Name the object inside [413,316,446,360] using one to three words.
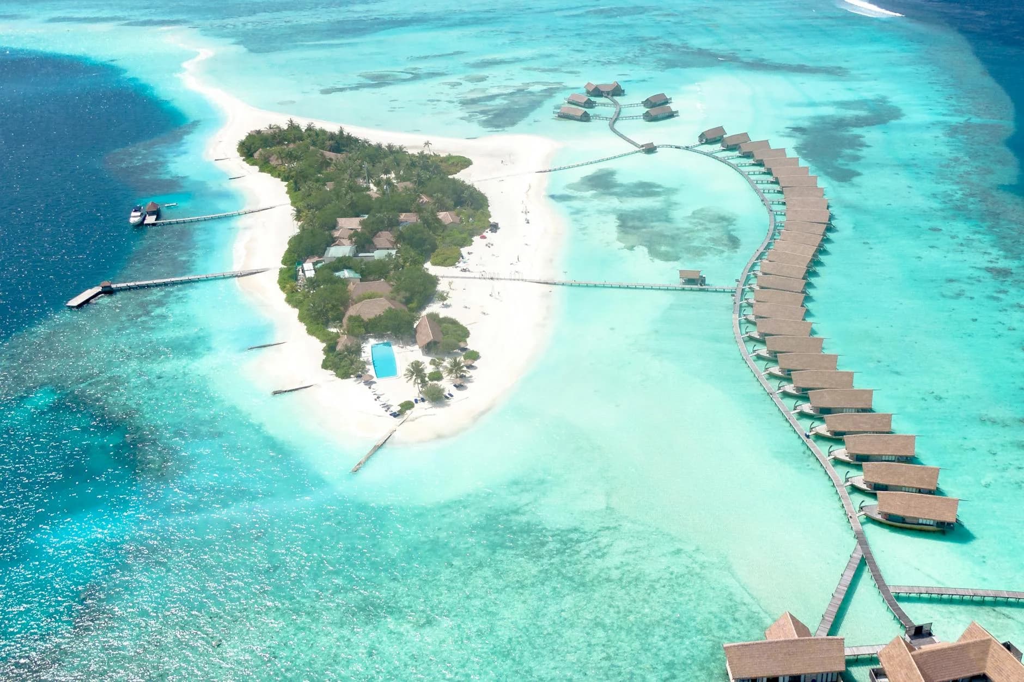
building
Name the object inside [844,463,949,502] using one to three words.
house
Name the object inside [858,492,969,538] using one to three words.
house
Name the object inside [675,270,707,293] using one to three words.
building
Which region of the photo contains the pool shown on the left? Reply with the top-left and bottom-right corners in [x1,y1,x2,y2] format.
[369,341,400,381]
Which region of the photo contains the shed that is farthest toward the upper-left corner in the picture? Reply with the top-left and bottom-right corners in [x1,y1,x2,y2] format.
[144,202,164,228]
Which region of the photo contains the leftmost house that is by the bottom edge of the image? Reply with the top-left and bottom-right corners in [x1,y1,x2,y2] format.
[716,611,847,682]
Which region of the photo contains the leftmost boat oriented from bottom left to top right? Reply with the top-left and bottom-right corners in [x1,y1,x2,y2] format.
[129,198,150,223]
